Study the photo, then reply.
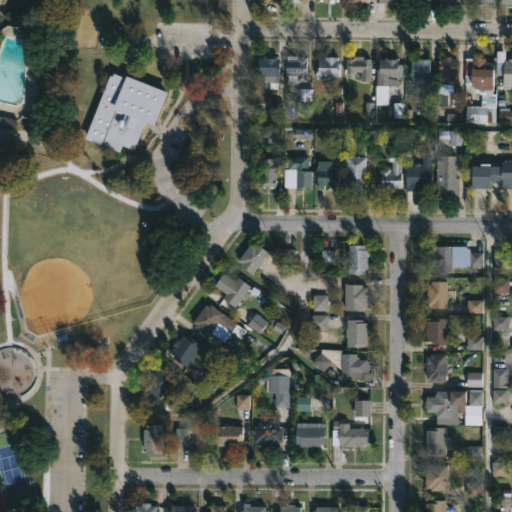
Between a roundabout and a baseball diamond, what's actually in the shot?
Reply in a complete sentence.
There is a baseball diamond in the scene.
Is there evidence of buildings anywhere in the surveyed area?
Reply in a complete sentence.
Yes, you can see a building in this photo.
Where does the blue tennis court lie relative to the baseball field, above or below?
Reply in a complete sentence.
You can see the blue tennis court below the baseball field in the frame.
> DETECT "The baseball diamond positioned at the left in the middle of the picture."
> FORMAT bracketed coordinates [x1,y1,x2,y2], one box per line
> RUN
[22,258,94,335]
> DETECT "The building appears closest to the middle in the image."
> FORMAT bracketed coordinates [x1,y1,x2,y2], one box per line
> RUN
[240,246,268,276]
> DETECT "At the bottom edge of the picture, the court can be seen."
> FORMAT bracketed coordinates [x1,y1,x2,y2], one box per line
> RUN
[0,433,34,504]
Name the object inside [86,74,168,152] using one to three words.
building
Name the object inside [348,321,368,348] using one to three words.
house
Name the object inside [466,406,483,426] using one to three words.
building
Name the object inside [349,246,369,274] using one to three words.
house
